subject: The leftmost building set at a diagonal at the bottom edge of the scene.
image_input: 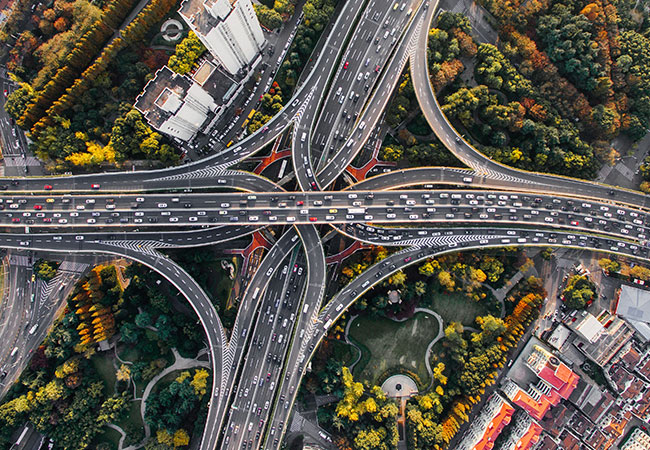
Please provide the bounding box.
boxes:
[454,390,514,450]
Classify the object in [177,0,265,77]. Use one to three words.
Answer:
building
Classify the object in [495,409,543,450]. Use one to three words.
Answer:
building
